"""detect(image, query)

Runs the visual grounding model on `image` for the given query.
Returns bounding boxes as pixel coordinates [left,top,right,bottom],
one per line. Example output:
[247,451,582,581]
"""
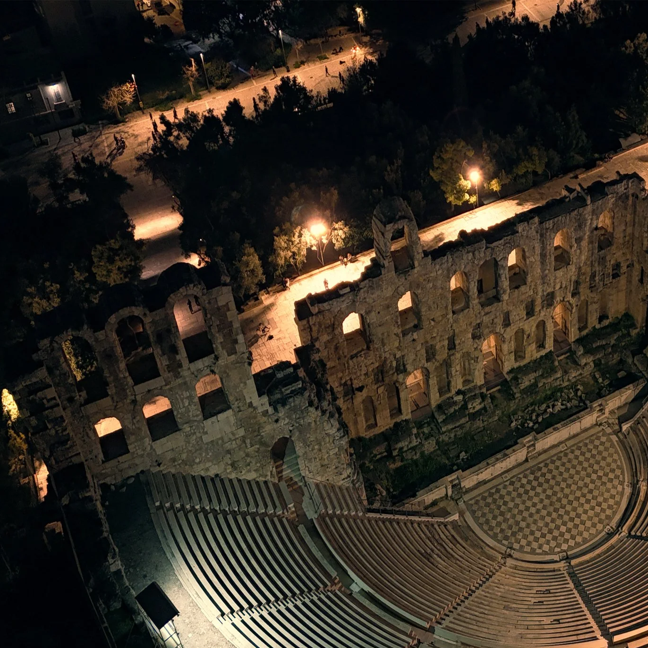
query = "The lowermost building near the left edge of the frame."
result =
[0,50,83,120]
